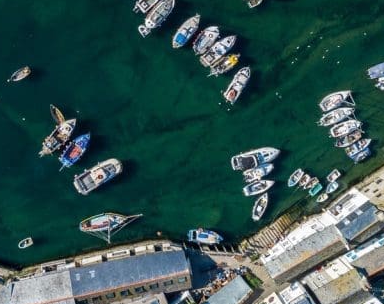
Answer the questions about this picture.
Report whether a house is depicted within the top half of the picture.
No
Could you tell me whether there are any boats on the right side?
Yes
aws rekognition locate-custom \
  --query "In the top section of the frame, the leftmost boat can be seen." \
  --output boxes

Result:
[6,69,30,83]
